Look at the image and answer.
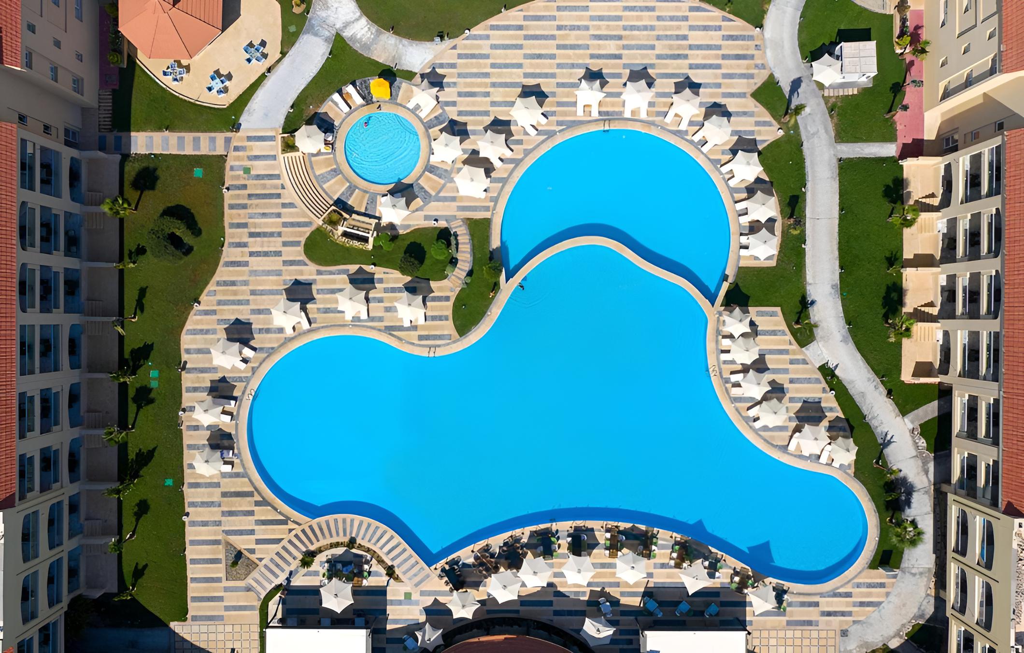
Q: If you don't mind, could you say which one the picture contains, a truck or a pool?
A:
pool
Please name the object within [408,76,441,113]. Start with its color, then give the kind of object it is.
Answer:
white umbrella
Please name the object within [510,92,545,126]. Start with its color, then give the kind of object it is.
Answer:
white umbrella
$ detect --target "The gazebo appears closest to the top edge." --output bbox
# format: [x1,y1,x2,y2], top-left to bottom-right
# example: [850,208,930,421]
[118,0,223,60]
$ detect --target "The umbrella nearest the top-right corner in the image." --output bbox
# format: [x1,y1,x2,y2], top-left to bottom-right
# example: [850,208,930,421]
[810,51,841,86]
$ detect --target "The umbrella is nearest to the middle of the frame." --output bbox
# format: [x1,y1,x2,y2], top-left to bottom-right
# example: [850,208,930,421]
[393,286,426,324]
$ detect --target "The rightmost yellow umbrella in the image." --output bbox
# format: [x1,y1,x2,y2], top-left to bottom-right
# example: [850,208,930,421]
[370,80,392,102]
